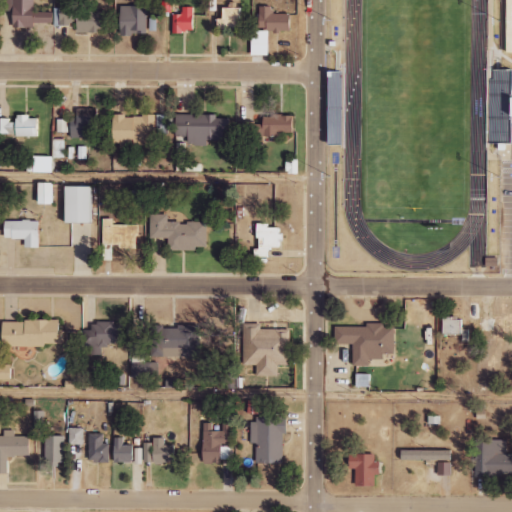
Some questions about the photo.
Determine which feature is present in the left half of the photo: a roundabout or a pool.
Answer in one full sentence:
The feature located in the left half of the photo is a pool.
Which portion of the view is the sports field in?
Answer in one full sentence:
You can find the sports field in the top right area of the picture.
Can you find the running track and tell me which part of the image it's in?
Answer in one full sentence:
Look in the top right portion of the view to spot the running track.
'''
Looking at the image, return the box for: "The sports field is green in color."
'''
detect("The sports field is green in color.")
[362,0,470,254]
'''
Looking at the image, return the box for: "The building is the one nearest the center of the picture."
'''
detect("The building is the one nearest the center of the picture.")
[254,224,282,262]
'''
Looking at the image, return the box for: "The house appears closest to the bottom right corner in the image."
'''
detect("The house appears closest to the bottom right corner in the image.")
[481,440,512,474]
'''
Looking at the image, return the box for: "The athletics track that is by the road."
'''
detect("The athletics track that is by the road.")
[345,0,486,270]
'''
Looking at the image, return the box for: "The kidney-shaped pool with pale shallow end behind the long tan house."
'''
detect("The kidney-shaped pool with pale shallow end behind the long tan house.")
[44,356,68,381]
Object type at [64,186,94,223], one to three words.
building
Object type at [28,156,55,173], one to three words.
shed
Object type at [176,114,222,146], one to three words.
house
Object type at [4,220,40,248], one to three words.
house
